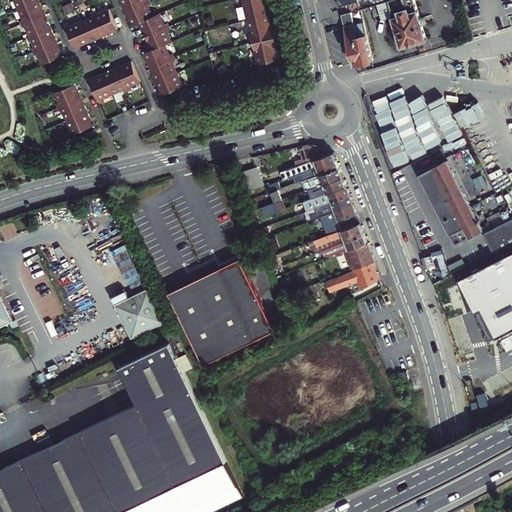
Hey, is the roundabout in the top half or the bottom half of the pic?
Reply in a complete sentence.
Seen from above, the roundabout lies in the top half of the view.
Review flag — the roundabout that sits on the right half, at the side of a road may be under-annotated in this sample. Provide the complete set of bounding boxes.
[299,78,364,144]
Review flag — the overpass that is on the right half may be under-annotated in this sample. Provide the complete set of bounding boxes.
[320,414,512,512]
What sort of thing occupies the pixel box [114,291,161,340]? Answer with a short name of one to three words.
building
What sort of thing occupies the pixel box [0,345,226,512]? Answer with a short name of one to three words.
warehouse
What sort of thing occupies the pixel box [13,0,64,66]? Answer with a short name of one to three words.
house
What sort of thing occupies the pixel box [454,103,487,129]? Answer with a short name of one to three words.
shed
